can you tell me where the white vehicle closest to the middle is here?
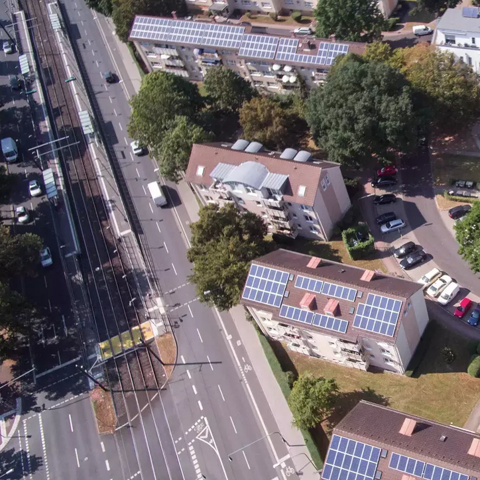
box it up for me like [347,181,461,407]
[146,179,168,207]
